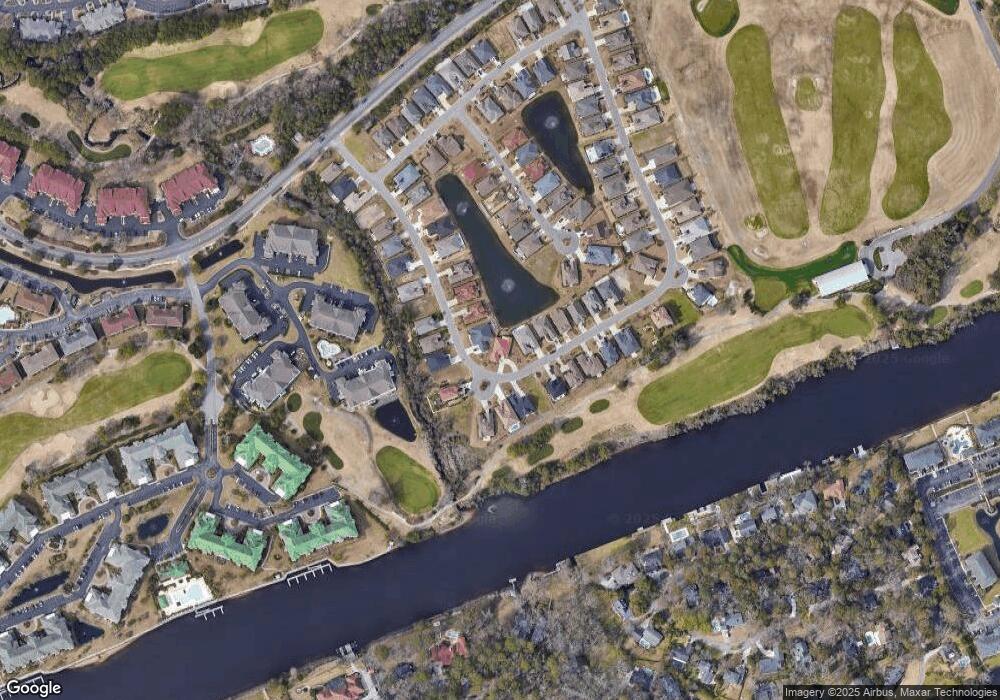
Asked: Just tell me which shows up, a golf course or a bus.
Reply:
golf course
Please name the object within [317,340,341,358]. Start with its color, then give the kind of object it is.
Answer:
white swimming pool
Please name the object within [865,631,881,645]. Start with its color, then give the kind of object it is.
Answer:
white swimming pool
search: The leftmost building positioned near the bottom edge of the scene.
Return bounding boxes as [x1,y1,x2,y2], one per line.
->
[0,618,73,673]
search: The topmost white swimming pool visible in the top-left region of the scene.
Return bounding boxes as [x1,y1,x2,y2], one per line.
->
[252,138,275,155]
